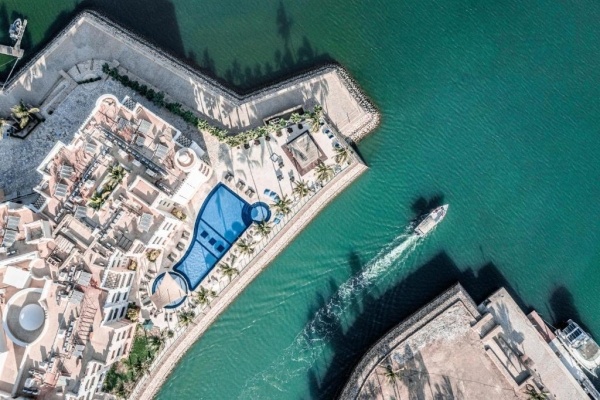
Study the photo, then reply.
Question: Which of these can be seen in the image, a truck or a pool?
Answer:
pool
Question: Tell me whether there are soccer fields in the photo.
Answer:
No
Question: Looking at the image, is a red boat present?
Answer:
No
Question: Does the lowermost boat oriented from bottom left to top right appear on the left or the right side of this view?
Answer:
right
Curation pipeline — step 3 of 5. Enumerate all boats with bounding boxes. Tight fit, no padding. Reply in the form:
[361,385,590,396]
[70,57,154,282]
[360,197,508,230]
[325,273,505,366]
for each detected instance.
[12,14,25,33]
[412,204,449,235]
[550,313,600,377]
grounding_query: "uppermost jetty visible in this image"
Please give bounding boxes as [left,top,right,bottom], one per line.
[0,20,30,59]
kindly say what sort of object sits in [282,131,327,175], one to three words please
gazebo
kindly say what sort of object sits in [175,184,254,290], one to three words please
swimming pool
